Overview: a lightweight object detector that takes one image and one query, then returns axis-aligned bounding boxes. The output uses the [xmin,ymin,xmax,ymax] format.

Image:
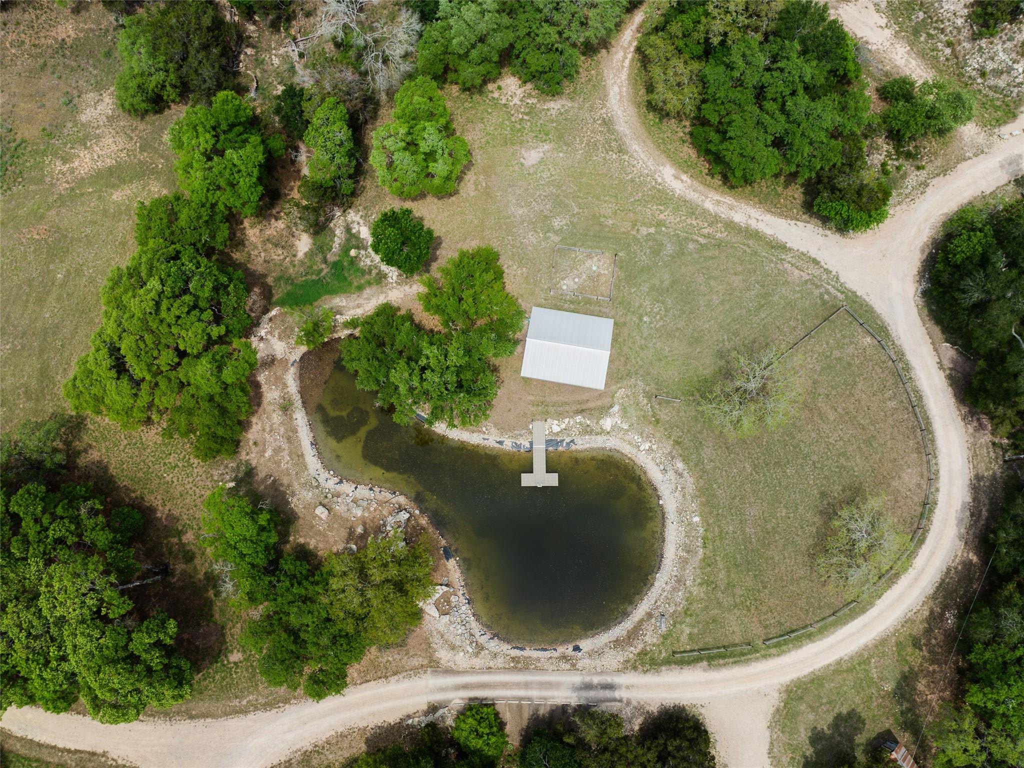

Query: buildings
[521,306,614,390]
[878,734,919,768]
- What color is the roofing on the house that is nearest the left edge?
white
